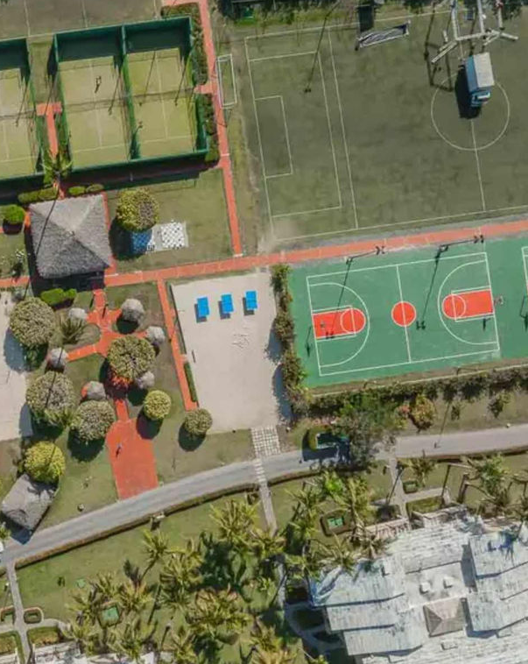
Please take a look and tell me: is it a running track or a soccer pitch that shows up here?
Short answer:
soccer pitch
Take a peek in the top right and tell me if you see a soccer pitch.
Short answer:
Yes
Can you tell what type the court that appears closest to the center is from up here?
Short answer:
basketball court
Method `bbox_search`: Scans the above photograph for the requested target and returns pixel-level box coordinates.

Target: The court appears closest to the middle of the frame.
[306,253,505,375]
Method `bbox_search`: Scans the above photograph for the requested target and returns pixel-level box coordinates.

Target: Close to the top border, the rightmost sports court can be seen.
[118,27,199,159]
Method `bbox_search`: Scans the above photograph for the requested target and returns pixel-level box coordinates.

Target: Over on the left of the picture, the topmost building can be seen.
[27,194,113,281]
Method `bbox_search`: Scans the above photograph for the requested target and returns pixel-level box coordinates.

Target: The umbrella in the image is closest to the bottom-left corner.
[83,379,105,402]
